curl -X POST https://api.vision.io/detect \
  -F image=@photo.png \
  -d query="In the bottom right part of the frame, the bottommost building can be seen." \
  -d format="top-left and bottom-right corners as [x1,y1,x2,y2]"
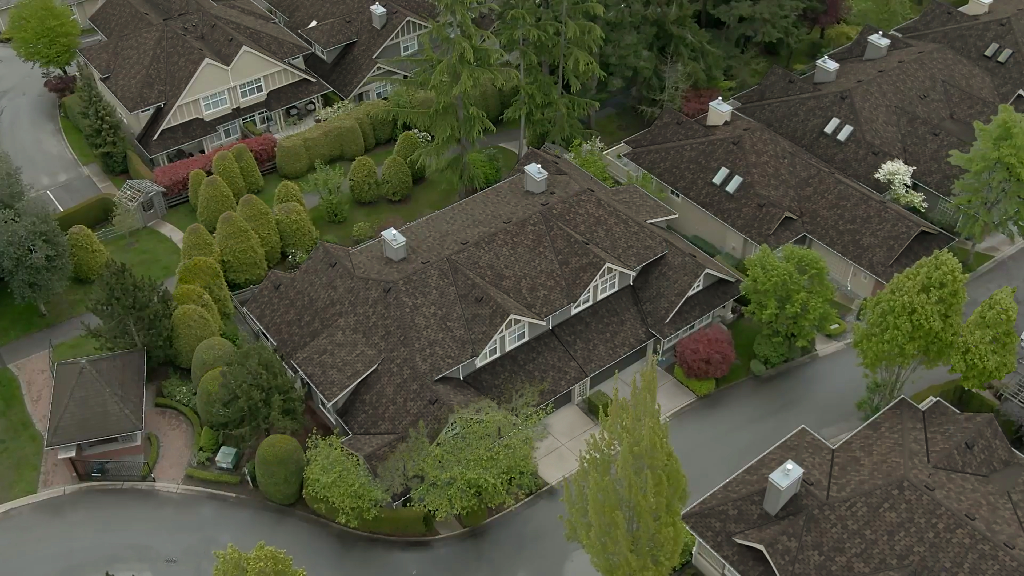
[673,398,1024,576]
